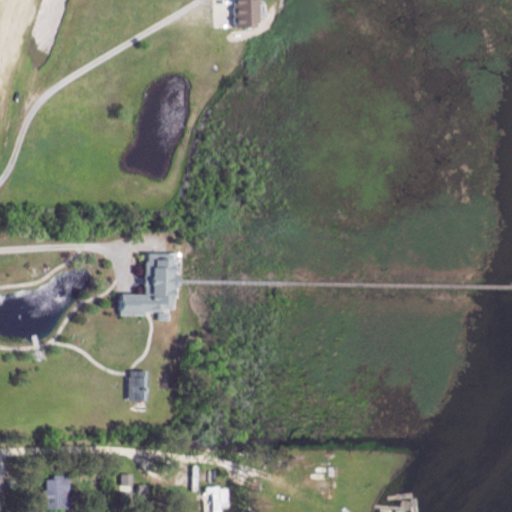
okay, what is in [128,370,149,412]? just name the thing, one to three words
house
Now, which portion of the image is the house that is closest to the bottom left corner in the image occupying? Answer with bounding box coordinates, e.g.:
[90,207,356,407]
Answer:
[46,476,70,510]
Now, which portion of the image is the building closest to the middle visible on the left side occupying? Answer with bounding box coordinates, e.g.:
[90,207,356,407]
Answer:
[117,252,183,322]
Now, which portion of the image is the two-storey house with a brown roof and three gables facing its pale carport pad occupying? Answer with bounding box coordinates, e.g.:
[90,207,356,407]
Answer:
[235,0,267,29]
